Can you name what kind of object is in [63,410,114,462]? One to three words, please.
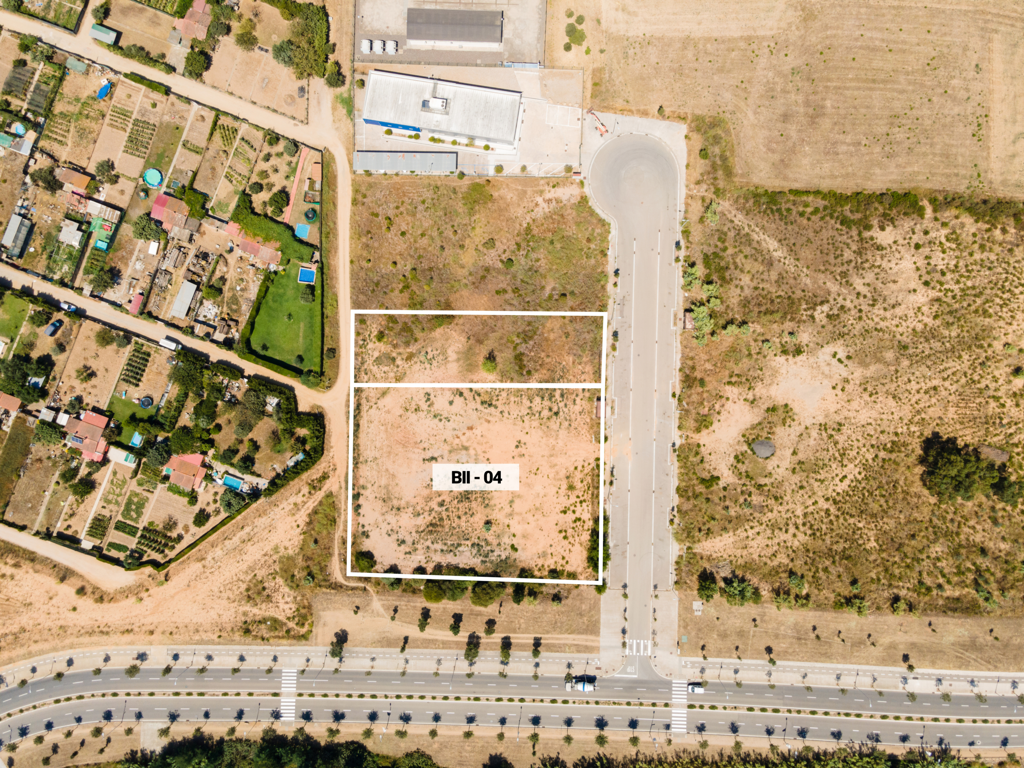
house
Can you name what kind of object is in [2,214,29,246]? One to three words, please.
barn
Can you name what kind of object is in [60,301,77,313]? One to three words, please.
vehicle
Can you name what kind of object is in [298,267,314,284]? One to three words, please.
swimming pool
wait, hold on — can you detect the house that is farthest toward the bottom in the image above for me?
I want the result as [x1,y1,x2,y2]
[164,453,209,490]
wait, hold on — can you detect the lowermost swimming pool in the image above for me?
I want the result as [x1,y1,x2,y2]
[221,476,244,491]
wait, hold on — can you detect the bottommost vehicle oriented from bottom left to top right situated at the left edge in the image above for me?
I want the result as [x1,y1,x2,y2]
[45,320,63,334]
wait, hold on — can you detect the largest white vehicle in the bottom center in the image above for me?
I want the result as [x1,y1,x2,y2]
[565,681,594,693]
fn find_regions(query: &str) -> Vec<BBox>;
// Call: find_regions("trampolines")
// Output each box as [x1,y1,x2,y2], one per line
[138,397,152,409]
[303,208,316,221]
